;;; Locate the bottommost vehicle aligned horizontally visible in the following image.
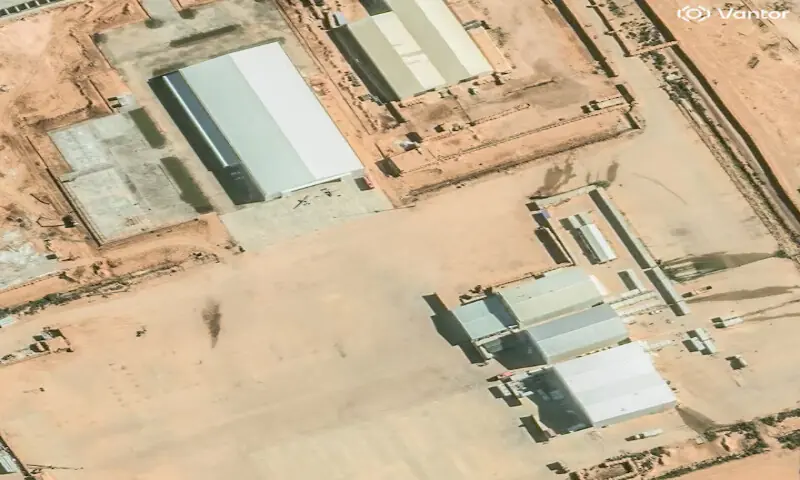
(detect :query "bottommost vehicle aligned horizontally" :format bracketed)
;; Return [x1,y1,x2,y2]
[634,425,665,440]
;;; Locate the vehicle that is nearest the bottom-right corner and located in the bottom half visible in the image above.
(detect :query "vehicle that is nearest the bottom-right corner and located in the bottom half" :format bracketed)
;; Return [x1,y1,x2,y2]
[735,355,748,371]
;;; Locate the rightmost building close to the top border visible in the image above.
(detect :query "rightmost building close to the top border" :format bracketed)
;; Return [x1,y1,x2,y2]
[347,0,495,103]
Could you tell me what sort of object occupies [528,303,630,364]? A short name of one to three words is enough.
shed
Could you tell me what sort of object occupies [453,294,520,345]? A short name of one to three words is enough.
shed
